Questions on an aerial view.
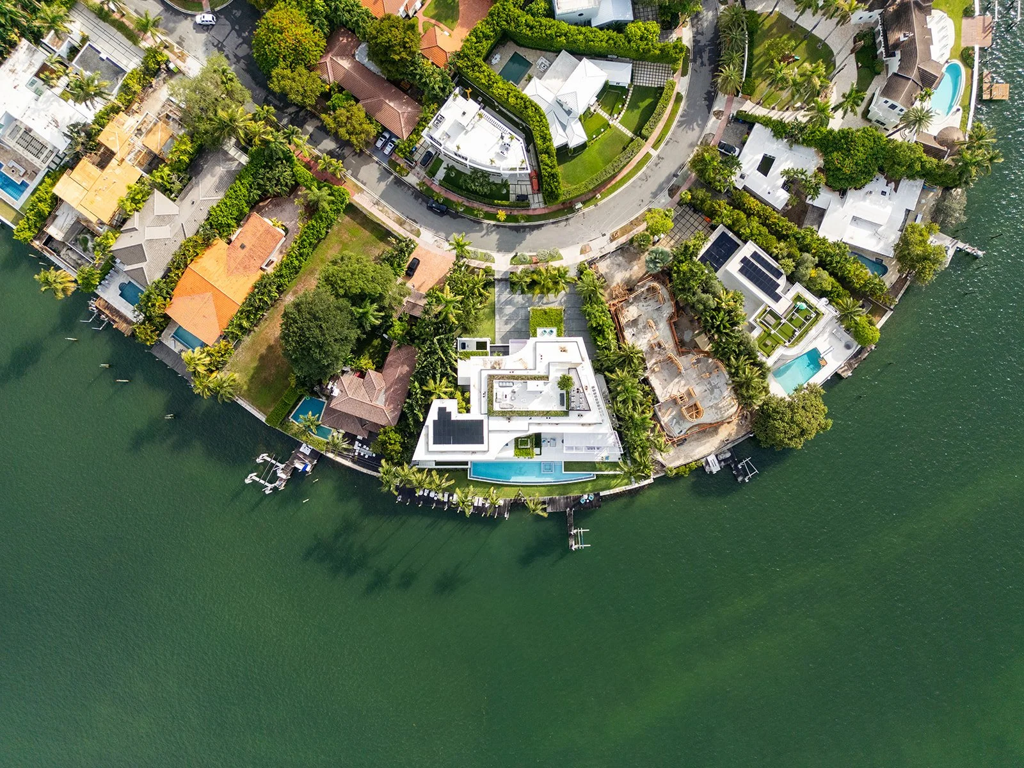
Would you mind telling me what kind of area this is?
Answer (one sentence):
This looks like a residential area.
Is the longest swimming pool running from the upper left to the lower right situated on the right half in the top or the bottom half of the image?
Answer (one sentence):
The longest swimming pool running from the upper left to the lower right situated on the right half is in the top half of the image.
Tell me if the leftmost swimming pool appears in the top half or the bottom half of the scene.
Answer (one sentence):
It is in the top half that the leftmost swimming pool appears.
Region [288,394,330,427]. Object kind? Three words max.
swimming pool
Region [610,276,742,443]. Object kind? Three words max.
house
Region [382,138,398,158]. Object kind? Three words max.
car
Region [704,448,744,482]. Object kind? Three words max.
pier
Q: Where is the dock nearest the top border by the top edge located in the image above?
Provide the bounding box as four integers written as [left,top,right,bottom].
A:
[961,15,993,51]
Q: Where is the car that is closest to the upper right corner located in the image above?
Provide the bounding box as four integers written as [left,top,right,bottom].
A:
[718,140,740,156]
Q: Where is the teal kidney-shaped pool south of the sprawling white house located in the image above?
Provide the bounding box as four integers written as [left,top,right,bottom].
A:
[843,248,890,280]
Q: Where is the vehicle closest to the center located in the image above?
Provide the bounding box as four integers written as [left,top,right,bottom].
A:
[405,256,423,278]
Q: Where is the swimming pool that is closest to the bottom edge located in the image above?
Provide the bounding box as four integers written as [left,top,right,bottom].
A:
[468,461,595,485]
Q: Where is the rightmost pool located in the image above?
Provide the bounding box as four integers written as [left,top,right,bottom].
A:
[930,61,964,118]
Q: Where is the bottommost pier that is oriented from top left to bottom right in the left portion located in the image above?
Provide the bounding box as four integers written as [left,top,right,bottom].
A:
[147,341,195,386]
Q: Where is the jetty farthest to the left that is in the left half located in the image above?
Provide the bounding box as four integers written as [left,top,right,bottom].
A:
[95,297,133,336]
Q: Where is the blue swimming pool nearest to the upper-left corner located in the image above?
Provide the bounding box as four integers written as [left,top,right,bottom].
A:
[0,161,33,203]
